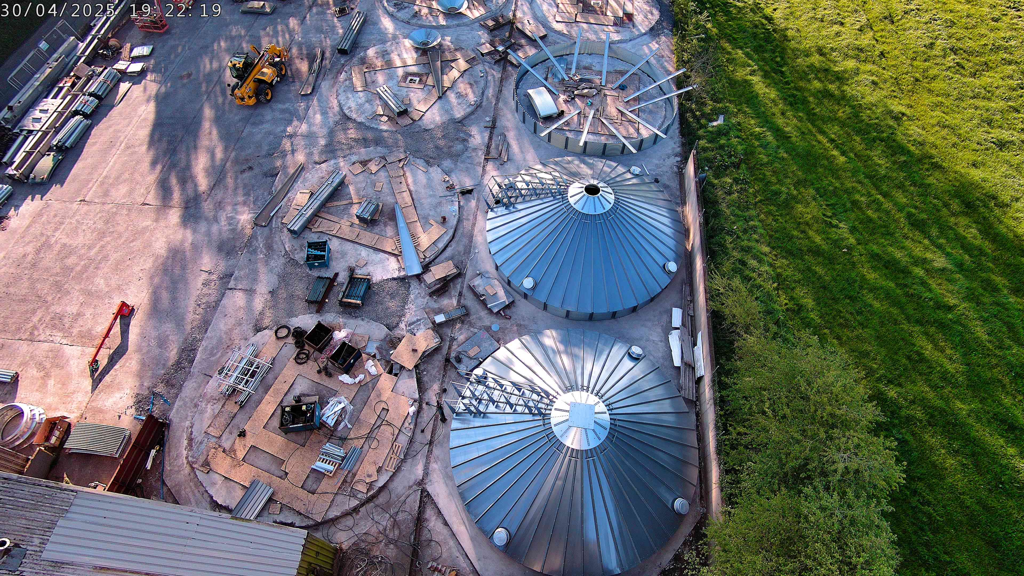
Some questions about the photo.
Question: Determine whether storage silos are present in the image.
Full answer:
Yes, this view includes a storage silo.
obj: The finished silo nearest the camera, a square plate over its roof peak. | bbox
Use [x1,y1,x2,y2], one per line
[447,325,702,576]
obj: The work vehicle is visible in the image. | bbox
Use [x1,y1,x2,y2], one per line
[220,42,288,105]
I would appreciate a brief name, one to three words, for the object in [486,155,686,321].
silo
